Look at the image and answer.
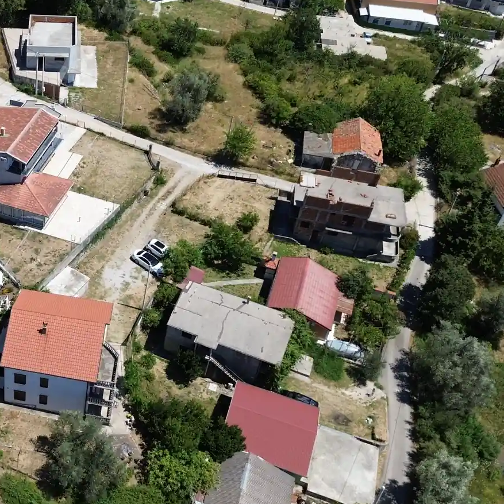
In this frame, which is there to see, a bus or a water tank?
water tank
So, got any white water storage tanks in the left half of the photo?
Yes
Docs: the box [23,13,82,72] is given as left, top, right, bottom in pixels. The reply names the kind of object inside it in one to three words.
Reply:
house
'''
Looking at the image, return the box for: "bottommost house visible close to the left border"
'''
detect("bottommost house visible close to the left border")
[0,291,120,421]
